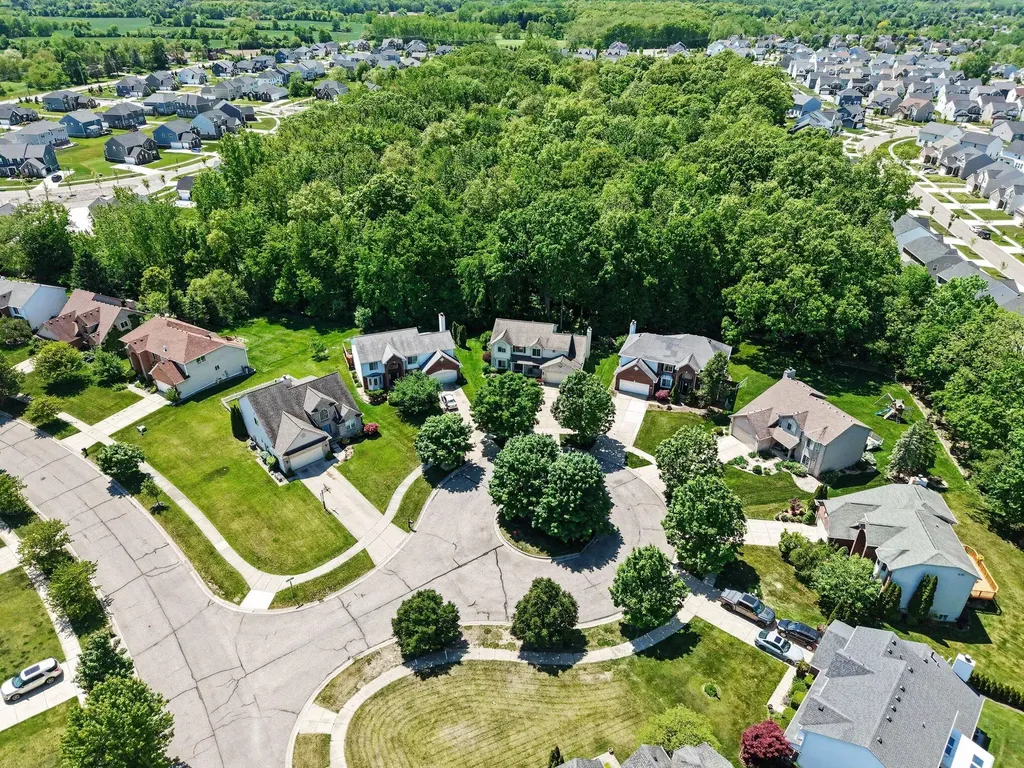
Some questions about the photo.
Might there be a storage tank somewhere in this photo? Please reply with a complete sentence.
No, the picture doesn't show any storage tank.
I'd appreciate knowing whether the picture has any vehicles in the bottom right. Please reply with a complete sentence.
Yes, I can see a vehicle in the bottom right.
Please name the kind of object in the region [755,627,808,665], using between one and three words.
car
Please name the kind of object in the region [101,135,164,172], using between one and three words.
house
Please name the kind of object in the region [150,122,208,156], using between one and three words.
house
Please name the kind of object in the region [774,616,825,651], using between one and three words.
car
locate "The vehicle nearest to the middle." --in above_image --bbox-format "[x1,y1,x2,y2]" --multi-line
[440,388,460,408]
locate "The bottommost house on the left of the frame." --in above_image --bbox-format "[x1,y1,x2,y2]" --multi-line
[238,366,371,474]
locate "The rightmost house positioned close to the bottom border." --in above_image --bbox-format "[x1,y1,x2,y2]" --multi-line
[762,614,987,768]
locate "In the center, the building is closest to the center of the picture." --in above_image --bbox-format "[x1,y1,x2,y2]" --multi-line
[486,315,590,385]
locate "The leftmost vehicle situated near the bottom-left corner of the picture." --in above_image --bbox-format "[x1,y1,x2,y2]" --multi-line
[0,658,59,700]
